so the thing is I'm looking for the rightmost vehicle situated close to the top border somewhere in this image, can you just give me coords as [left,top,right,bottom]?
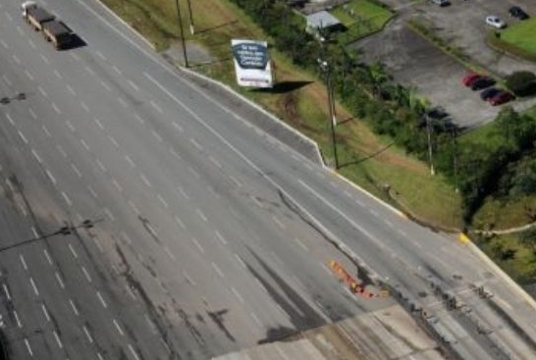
[507,8,529,22]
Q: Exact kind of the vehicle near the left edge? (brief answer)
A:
truck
